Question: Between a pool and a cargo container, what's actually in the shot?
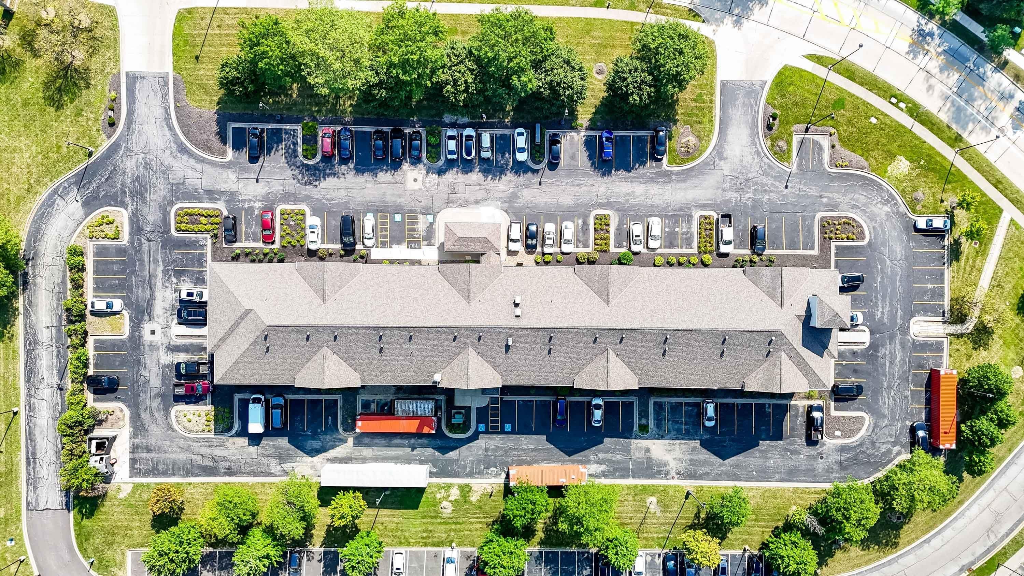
cargo container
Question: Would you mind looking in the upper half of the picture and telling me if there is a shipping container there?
No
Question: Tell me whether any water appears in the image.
No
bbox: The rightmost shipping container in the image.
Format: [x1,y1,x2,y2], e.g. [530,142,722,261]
[931,367,957,449]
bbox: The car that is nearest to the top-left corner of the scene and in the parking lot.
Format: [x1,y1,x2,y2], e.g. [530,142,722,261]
[247,127,263,157]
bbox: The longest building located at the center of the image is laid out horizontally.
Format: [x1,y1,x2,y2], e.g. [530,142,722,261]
[208,222,850,394]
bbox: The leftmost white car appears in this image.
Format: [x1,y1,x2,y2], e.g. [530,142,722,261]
[90,298,125,313]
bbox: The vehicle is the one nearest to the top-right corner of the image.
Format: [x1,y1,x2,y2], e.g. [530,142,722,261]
[914,217,949,232]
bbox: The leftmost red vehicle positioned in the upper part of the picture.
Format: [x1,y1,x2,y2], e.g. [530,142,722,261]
[262,211,276,243]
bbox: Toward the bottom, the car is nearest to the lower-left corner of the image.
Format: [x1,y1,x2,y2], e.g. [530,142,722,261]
[87,374,120,389]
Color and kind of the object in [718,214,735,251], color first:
white vehicle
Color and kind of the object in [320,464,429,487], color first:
white trailer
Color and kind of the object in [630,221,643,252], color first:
white vehicle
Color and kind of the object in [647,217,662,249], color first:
white car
